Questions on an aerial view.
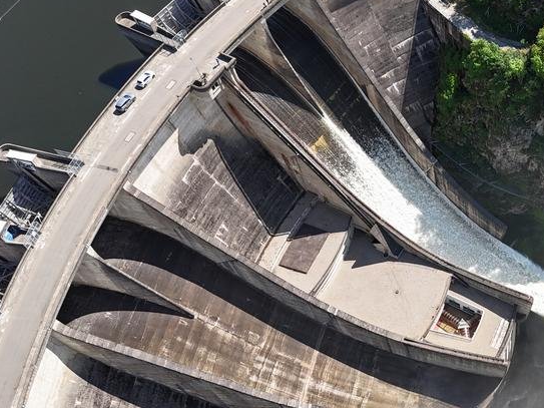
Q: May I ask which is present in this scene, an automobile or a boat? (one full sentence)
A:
I can see an automobile in this picture.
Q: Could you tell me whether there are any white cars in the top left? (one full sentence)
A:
Yes, looking in the top left, one can make out a white car.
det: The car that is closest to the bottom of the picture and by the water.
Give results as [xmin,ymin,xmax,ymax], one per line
[109,92,140,115]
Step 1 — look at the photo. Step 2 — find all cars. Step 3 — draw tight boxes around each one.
[109,92,140,115]
[132,69,158,90]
